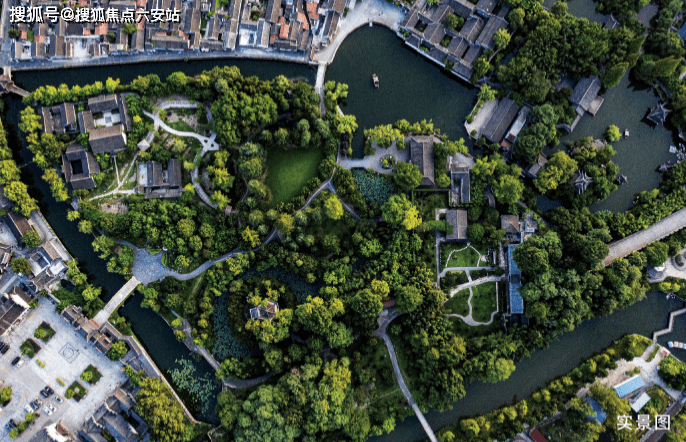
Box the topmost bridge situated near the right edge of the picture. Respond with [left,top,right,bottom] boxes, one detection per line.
[606,207,686,267]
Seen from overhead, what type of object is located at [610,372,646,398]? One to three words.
shed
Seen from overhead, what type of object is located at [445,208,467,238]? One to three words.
building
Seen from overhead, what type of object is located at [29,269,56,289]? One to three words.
house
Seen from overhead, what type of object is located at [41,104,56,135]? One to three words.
building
